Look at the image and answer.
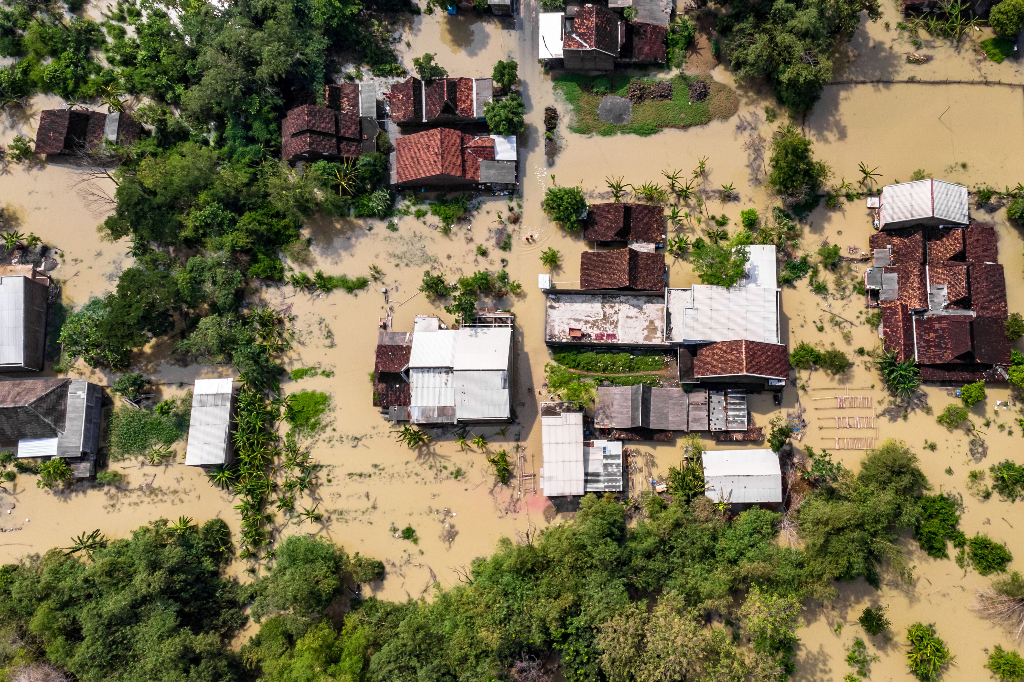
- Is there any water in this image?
Yes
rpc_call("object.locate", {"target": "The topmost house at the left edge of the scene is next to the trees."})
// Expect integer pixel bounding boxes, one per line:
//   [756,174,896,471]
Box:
[35,109,148,160]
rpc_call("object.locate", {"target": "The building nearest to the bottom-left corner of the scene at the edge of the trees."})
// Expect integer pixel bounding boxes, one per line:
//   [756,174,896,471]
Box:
[0,378,109,477]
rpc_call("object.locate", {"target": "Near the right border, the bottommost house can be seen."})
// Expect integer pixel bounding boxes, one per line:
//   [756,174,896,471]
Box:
[861,227,1011,383]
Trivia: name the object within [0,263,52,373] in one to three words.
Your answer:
building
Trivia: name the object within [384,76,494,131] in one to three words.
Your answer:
house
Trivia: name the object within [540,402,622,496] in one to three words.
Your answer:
building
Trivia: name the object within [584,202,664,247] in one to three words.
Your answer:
house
